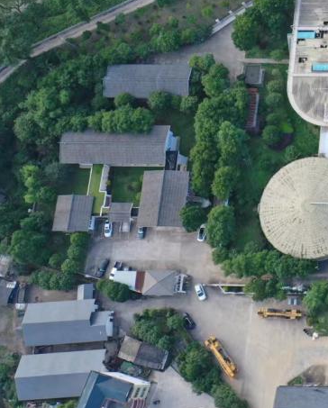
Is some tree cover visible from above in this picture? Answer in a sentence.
Yes, tree cover shows up in the scene.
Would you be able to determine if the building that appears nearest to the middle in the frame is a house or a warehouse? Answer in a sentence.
What you see as the building that appears nearest to the middle is a house.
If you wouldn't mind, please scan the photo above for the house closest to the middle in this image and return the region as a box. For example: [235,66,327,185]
[137,172,195,230]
